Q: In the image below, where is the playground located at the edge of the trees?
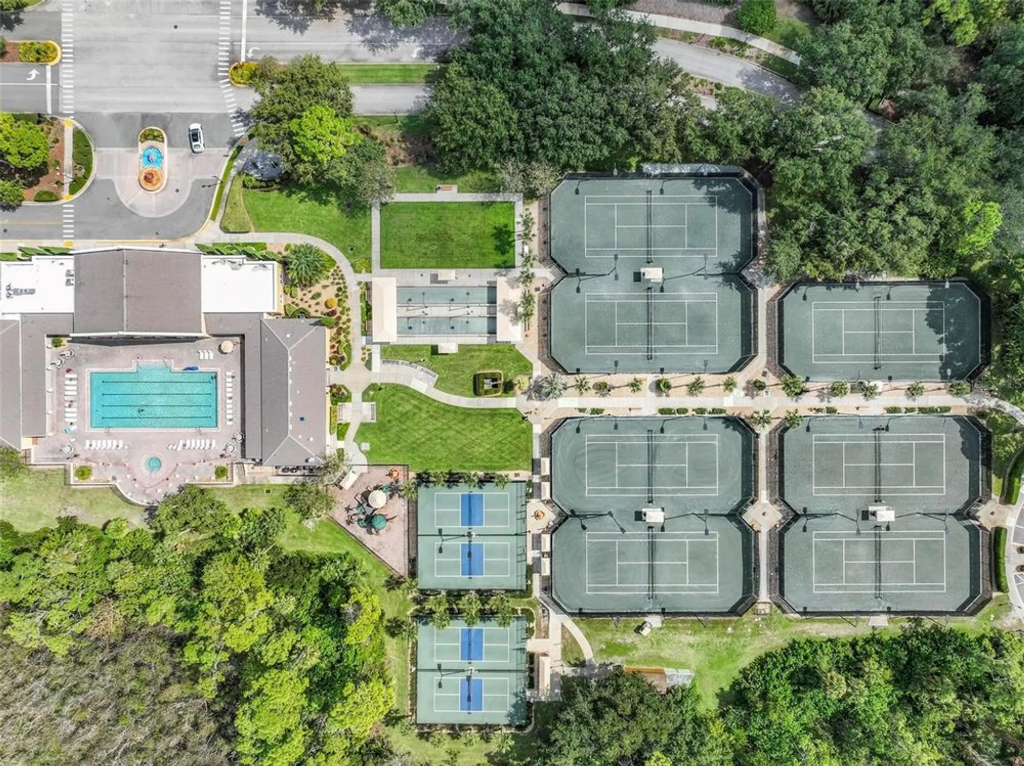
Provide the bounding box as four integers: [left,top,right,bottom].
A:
[326,466,408,573]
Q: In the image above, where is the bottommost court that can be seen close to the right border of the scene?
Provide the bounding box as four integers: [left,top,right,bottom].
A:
[785,514,980,610]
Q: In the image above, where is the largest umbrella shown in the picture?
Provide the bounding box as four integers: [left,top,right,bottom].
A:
[221,340,234,354]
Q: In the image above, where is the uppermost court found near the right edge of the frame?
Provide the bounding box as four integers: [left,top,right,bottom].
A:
[784,283,978,379]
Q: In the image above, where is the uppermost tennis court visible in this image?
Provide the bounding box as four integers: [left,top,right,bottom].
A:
[551,178,751,274]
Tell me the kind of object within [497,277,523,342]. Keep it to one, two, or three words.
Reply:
building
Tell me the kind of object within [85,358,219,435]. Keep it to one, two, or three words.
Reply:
swimming pool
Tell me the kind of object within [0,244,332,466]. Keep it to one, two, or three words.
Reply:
building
